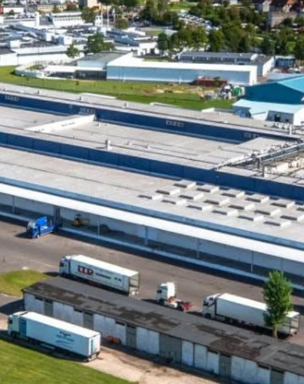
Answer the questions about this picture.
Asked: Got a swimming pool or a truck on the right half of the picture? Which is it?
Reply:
truck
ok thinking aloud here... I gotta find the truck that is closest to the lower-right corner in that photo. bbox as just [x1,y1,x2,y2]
[203,296,300,335]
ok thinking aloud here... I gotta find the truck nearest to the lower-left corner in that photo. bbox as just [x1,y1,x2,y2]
[8,316,99,358]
